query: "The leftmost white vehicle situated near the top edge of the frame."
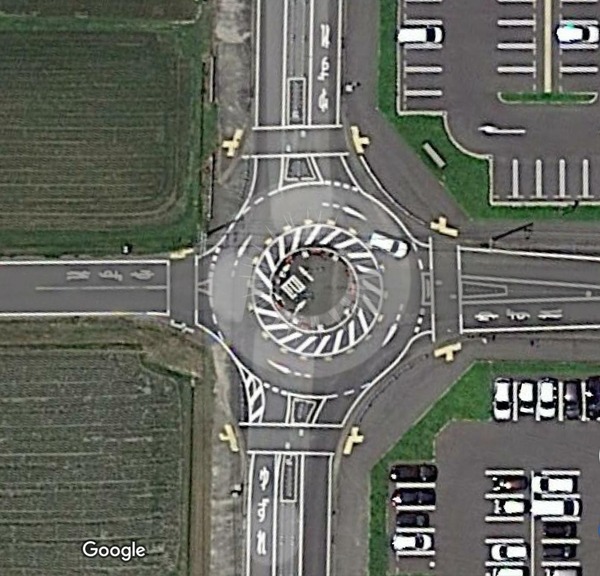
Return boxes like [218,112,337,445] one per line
[399,23,445,44]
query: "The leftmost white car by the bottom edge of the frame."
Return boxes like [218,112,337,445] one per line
[391,532,434,553]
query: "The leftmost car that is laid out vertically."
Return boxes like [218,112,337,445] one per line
[493,378,514,422]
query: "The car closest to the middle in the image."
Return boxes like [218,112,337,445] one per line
[369,231,410,257]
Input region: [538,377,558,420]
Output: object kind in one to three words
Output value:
car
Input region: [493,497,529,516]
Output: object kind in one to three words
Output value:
car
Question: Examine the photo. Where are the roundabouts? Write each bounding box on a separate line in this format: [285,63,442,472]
[209,180,425,400]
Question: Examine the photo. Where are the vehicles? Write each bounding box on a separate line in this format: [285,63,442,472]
[391,463,438,484]
[543,521,577,539]
[493,378,514,422]
[533,475,577,495]
[392,488,436,507]
[531,497,582,518]
[399,23,445,44]
[491,543,529,562]
[391,532,434,553]
[588,376,600,421]
[493,475,528,493]
[543,543,577,560]
[369,231,410,257]
[519,381,537,415]
[564,381,583,420]
[487,566,529,576]
[543,566,581,576]
[396,512,429,529]
[538,377,558,420]
[557,24,600,43]
[493,497,529,516]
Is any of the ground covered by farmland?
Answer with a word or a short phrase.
Yes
